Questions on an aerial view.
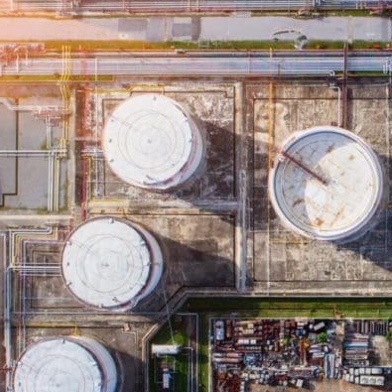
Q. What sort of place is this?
industrial area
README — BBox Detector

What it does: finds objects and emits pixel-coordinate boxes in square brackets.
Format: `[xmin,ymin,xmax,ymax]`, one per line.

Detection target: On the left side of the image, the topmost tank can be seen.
[102,96,207,196]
